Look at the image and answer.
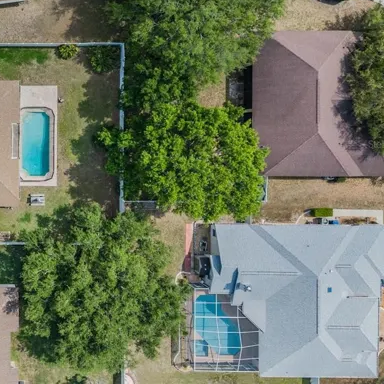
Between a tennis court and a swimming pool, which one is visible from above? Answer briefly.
swimming pool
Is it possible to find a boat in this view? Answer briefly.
No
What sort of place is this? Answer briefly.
residential area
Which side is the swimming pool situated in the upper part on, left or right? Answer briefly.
left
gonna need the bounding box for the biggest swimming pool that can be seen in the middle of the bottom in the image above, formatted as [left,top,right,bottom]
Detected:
[195,293,242,357]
